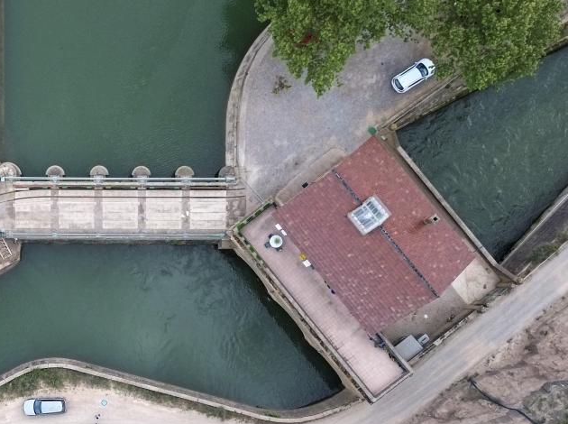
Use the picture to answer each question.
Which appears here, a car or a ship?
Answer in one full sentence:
Visible in the photo is a car.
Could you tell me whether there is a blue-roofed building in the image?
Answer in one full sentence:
No, there is no blue-roofed building in the image.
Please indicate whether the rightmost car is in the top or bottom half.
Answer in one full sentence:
The rightmost car is in the top half of the image.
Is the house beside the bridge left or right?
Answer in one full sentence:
You can find the house beside the bridge on the right side of the picture.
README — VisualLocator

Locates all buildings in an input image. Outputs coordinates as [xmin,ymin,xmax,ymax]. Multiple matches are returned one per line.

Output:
[274,136,477,334]
[388,334,424,362]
